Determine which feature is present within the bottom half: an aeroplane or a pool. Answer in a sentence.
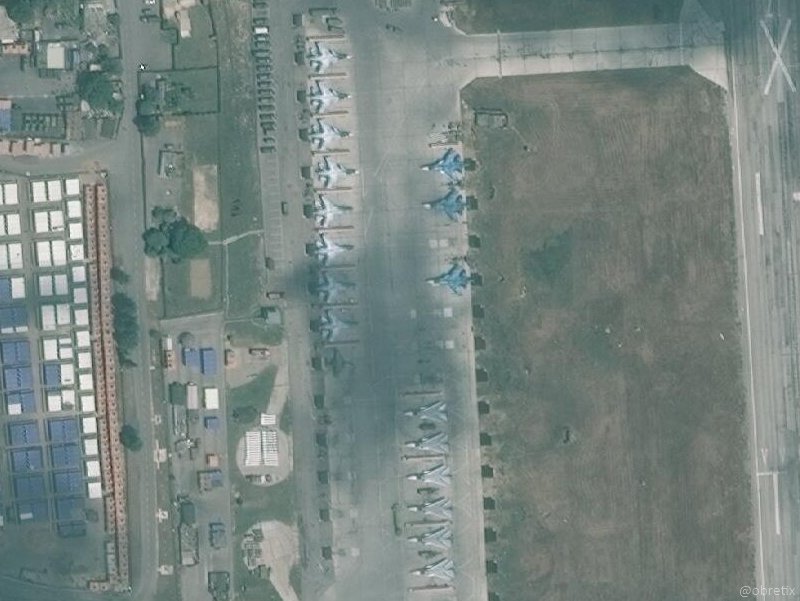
You can see an aeroplane within the bottom half.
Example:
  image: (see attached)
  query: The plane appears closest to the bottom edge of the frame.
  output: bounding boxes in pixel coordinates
[409,561,455,582]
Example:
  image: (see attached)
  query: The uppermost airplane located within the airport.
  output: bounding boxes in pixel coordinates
[308,41,350,73]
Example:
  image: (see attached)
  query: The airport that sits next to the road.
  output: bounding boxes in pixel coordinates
[253,0,800,601]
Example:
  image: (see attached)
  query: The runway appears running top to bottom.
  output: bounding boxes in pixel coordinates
[728,0,800,601]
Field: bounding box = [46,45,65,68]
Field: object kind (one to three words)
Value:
house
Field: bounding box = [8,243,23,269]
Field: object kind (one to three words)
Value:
shed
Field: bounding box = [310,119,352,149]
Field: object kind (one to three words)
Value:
airplane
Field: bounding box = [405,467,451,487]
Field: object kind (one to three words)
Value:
airplane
